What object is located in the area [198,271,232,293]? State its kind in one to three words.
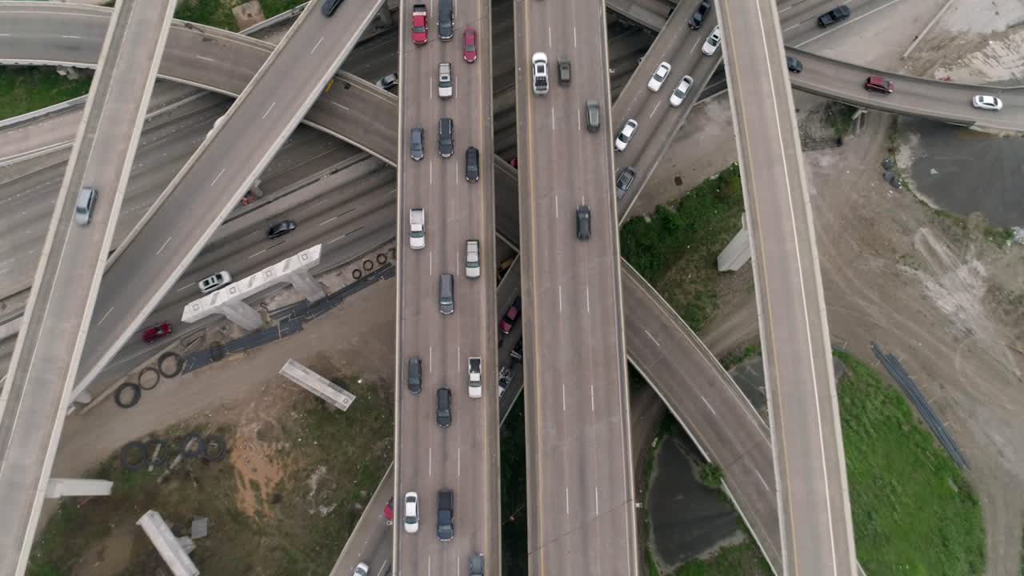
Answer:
car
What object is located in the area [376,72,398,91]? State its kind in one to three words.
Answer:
car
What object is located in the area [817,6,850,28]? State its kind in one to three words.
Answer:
truck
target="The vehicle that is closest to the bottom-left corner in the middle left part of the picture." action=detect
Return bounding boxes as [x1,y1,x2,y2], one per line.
[142,321,174,342]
